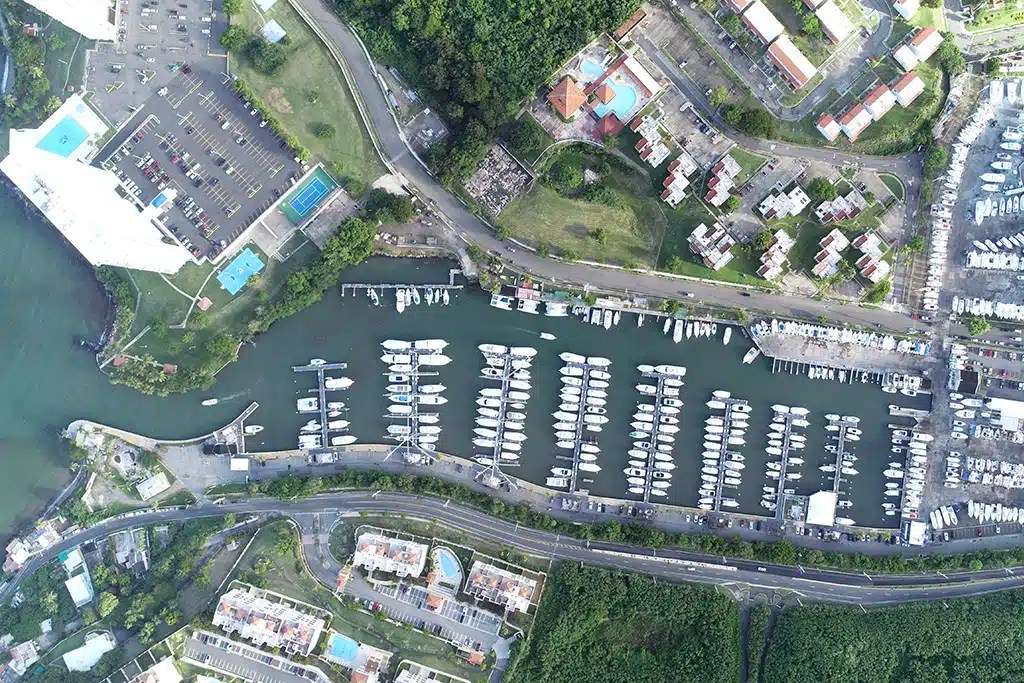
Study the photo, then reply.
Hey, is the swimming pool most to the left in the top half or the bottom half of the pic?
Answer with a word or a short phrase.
top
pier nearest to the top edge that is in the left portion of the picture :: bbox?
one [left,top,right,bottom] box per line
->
[342,269,463,296]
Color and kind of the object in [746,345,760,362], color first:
white boat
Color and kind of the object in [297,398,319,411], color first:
white boat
